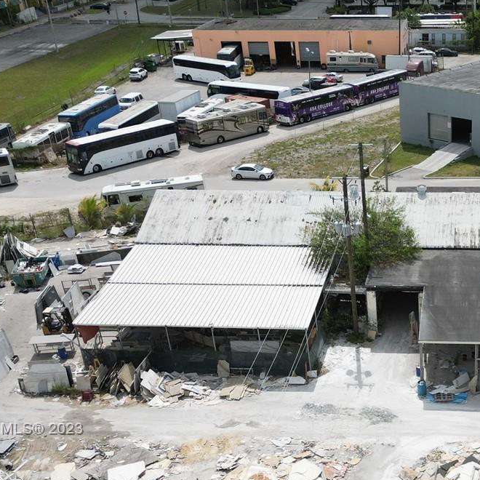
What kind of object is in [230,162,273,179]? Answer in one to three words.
car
